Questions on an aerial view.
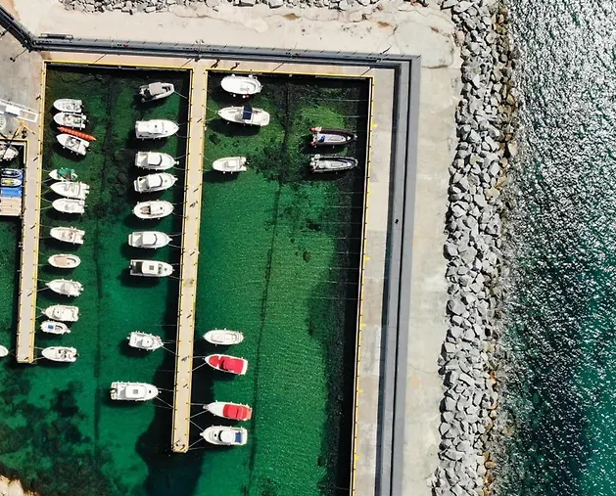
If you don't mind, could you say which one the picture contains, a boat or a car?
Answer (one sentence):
There is a boat in the scene.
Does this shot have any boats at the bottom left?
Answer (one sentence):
Yes, the scene does show a boat at the bottom left.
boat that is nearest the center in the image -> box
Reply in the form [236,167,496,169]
[311,154,358,171]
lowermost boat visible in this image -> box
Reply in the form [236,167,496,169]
[189,426,251,447]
